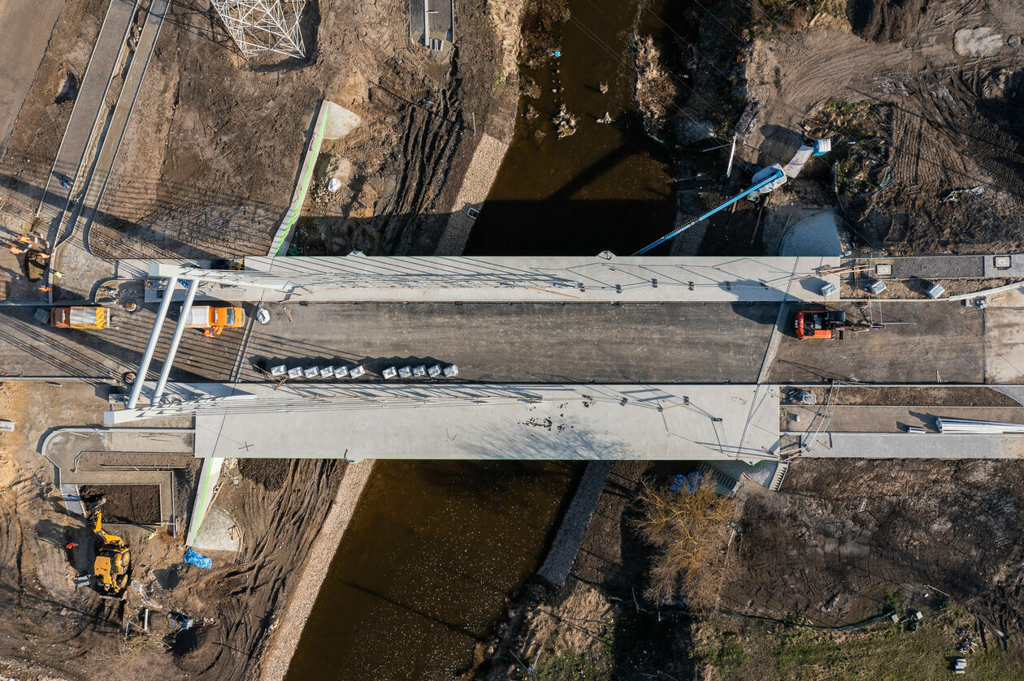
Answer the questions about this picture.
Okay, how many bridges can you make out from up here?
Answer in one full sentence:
I count 1 bridge.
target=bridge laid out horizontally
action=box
[106,251,840,466]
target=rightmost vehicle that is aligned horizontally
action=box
[792,310,880,339]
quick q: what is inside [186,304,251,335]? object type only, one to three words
truck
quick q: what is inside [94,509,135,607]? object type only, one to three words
work vehicle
